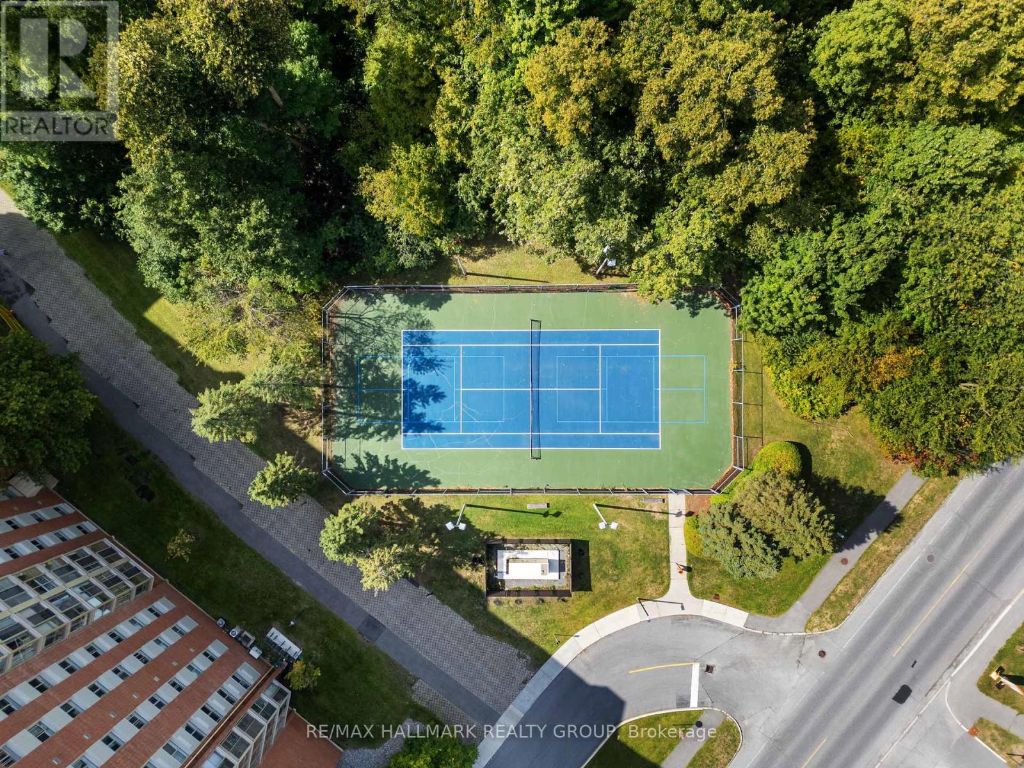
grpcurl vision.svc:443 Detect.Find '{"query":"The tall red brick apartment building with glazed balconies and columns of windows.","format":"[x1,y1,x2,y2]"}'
[0,457,344,768]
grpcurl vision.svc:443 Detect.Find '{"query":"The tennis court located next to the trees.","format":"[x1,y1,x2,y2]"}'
[328,287,737,493]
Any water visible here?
No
